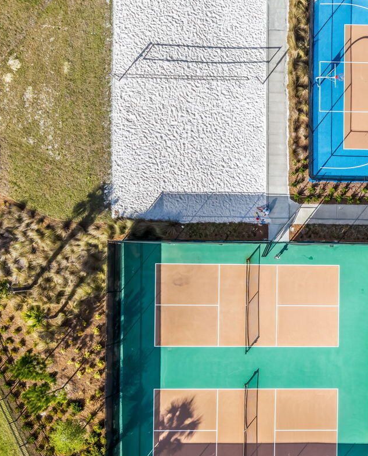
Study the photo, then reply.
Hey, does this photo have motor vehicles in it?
No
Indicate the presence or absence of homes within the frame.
No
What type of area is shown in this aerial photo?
sports ground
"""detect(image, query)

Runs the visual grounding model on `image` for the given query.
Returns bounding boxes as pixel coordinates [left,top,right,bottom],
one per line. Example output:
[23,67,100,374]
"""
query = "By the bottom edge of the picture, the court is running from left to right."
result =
[152,389,339,456]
